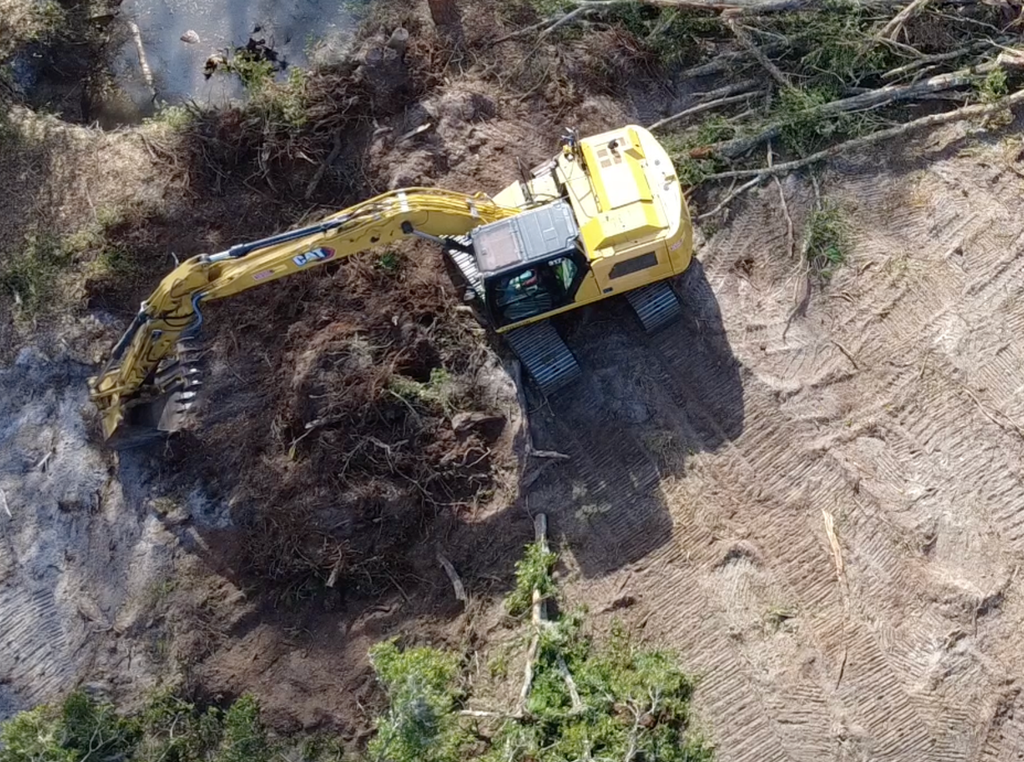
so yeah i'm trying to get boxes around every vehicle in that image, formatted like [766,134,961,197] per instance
[83,129,693,446]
